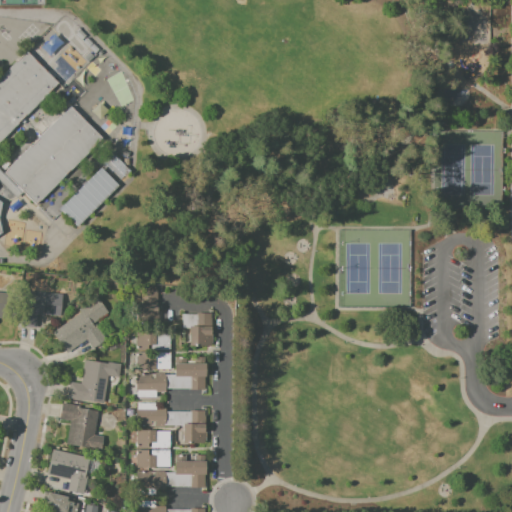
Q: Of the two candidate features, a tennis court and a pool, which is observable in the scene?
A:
tennis court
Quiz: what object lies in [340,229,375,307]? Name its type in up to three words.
tennis court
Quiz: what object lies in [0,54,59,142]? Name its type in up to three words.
building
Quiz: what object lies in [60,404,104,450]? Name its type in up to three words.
house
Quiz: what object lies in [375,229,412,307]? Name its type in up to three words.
tennis court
